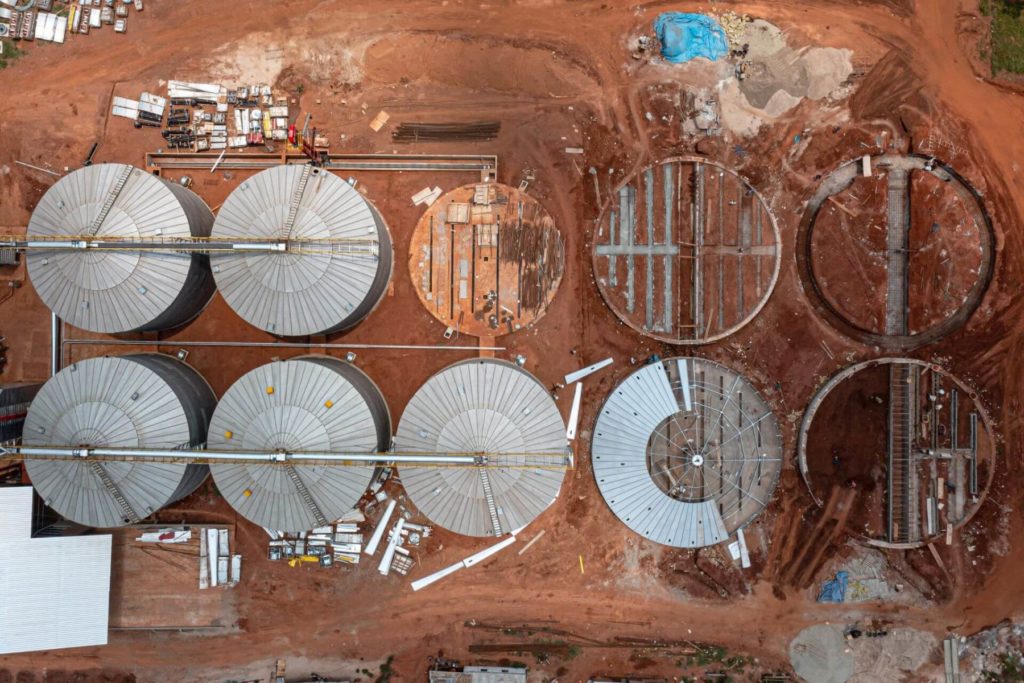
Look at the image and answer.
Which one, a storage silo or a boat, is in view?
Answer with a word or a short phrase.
storage silo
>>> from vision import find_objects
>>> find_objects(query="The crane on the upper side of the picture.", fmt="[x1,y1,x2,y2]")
[285,113,333,167]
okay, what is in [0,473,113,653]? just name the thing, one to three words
shed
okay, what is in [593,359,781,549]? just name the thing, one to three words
silo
